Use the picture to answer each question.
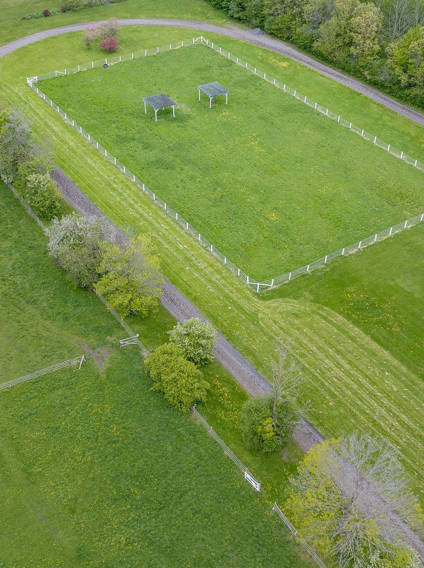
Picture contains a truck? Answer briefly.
No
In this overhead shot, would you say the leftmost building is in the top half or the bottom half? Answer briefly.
top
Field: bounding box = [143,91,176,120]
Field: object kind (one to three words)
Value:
building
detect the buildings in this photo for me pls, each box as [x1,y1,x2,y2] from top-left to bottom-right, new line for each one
[143,91,176,120]
[198,79,230,107]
